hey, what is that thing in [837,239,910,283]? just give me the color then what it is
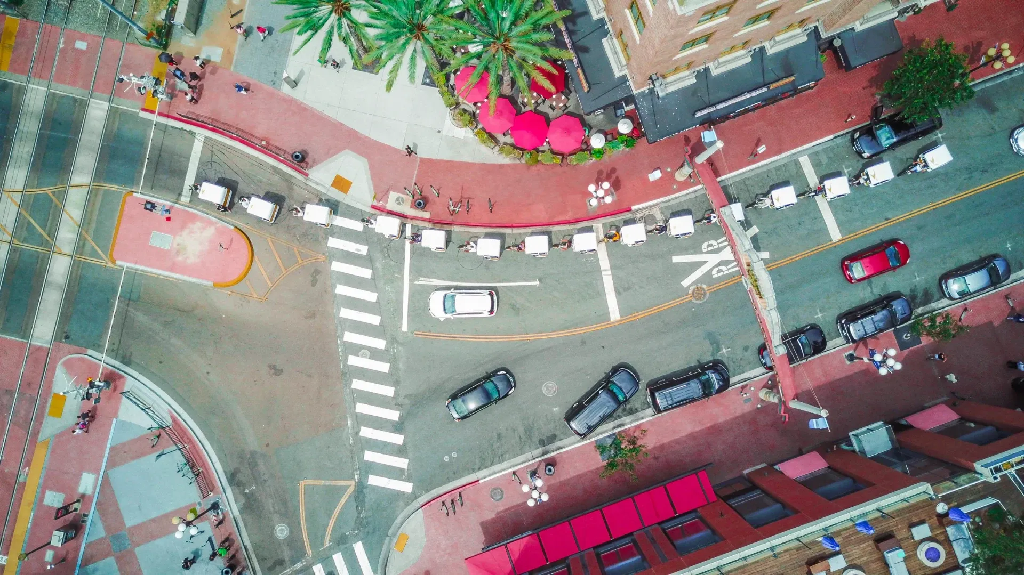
red car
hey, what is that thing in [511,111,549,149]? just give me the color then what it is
pink umbrella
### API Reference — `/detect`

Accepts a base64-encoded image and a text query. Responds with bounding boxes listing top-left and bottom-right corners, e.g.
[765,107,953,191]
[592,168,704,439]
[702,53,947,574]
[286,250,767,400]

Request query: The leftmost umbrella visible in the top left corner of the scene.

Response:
[157,50,173,67]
